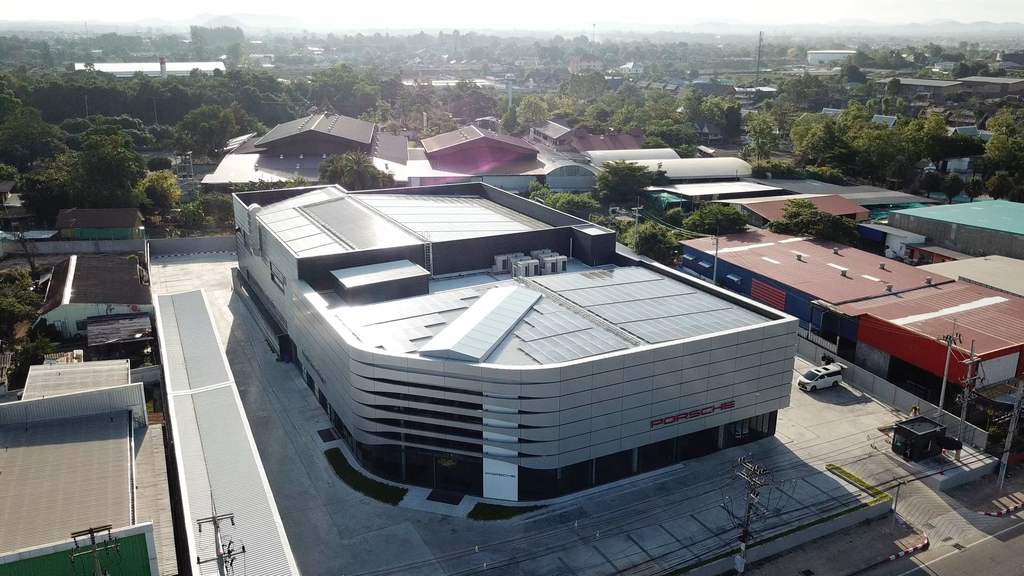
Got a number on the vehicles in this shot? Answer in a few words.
1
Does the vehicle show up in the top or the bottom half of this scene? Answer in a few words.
bottom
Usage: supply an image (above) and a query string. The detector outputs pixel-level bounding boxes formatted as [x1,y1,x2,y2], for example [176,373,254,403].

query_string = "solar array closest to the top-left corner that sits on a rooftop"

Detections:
[251,195,344,256]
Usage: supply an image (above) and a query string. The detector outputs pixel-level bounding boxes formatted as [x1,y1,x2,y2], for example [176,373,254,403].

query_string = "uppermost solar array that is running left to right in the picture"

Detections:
[358,194,551,240]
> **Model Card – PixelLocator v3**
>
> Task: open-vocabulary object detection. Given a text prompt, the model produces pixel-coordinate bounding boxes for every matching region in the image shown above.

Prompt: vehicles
[796,362,846,391]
